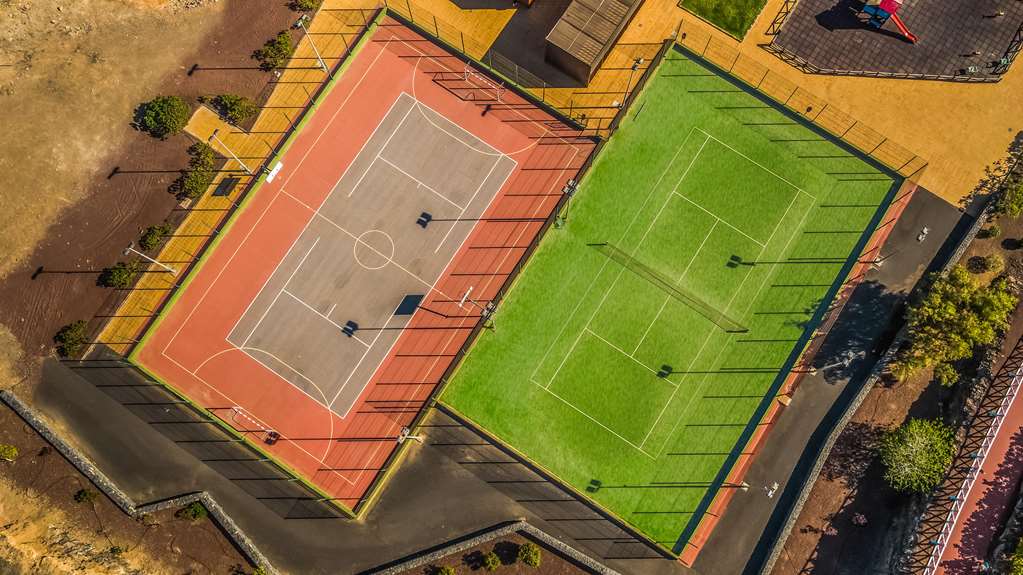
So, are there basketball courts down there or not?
Yes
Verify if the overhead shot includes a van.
No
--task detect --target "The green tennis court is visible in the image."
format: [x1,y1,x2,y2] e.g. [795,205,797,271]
[358,39,910,559]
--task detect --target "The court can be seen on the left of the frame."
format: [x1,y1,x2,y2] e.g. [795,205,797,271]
[126,7,603,519]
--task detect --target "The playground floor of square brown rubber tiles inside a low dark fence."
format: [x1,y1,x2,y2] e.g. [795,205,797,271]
[771,0,1023,79]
